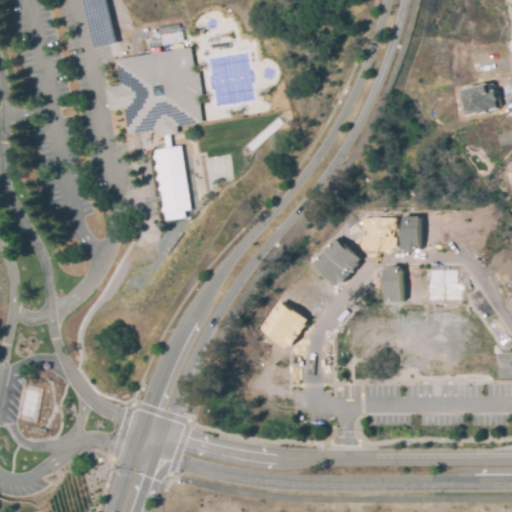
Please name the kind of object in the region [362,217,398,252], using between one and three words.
house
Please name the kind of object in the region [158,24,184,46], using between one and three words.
building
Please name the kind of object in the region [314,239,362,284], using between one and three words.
house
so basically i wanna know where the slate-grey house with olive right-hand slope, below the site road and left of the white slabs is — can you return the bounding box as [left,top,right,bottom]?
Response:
[382,266,404,302]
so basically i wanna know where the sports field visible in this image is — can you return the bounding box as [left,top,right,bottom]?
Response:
[200,112,281,179]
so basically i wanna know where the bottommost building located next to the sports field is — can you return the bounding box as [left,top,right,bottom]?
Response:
[155,134,192,222]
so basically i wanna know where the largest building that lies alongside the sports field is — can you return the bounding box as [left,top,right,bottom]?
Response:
[106,48,202,137]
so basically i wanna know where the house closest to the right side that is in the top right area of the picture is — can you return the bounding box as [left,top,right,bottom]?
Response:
[462,84,497,114]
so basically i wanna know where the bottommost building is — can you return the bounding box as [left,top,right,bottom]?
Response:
[22,386,43,422]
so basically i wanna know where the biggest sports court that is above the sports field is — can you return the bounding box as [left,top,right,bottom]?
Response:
[210,54,254,106]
